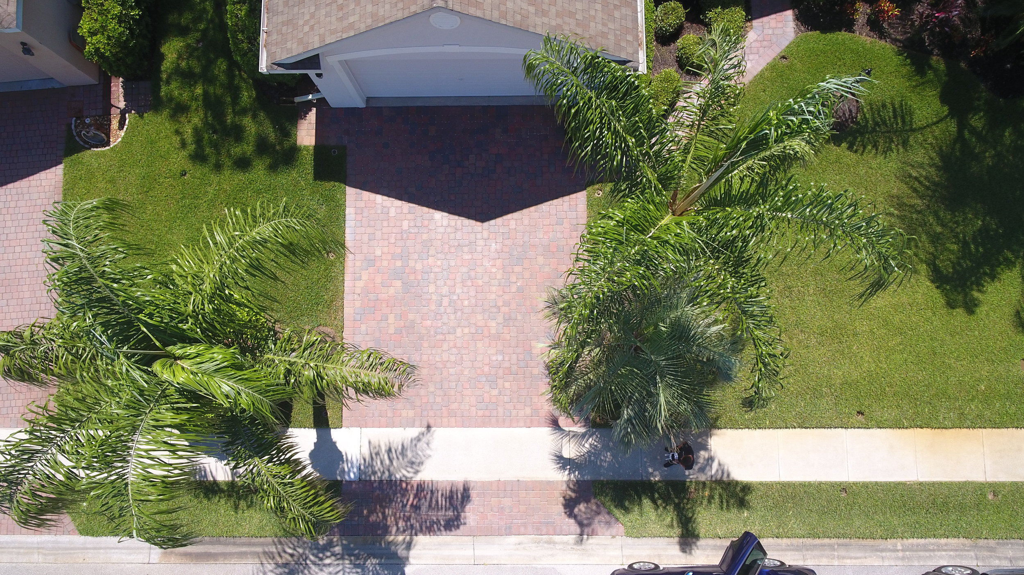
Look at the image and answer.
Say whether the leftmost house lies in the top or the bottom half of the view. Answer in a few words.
top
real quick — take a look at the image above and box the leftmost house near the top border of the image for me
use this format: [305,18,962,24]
[0,0,99,89]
